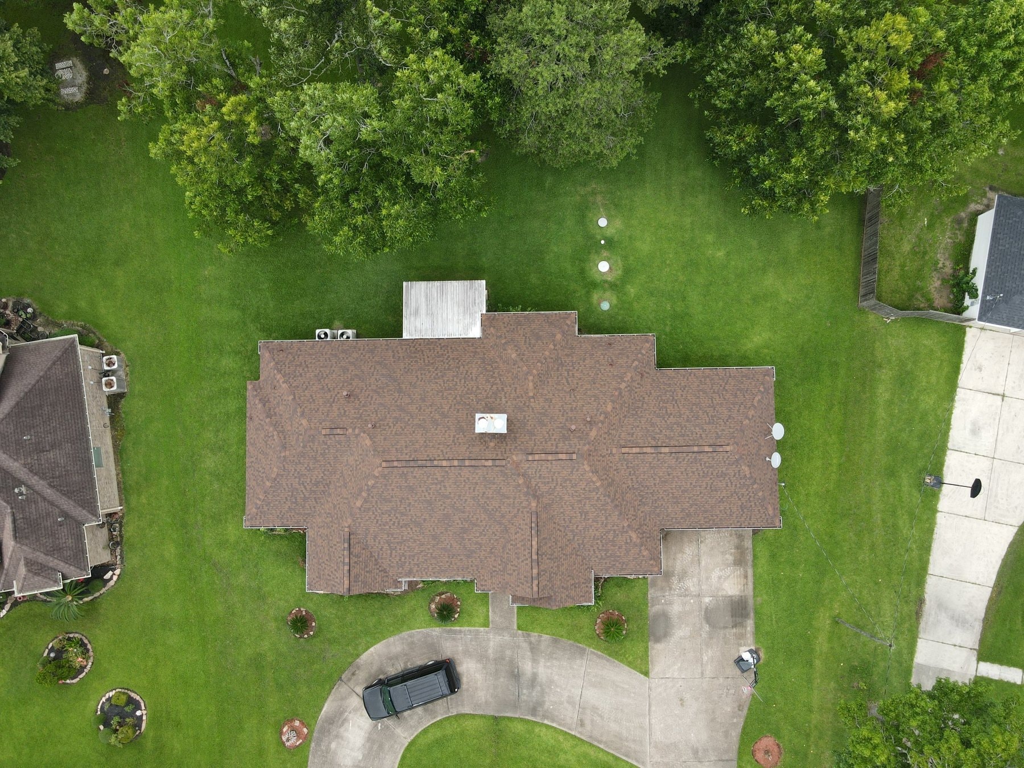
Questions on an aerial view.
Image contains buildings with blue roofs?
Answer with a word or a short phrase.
No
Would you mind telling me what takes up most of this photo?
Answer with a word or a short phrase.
grass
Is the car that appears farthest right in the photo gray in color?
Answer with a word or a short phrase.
Yes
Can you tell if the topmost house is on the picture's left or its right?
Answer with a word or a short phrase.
right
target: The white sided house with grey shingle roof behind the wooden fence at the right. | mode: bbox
[962,193,1024,338]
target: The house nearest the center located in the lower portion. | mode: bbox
[244,311,783,611]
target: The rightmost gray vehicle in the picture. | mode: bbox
[363,656,462,722]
